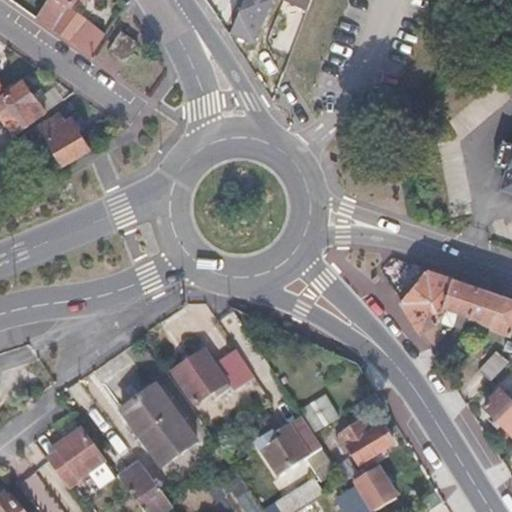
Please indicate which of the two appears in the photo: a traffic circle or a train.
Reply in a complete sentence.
There is a traffic circle in the scene.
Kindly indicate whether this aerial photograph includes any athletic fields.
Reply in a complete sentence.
No, no athletic field is visible in the scene.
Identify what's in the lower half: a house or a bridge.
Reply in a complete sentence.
Looking in the lower half, you will find a house.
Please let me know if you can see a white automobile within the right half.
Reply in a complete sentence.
Yes, I can see a white automobile within the right half.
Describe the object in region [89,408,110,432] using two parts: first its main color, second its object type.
white vehicle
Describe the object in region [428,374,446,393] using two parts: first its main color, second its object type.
white car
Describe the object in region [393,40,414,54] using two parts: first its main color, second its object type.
white vehicle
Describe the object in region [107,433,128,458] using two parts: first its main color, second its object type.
white truck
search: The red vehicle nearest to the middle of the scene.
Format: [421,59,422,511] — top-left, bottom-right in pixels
[365,296,386,316]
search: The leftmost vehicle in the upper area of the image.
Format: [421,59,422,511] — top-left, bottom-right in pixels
[53,40,70,54]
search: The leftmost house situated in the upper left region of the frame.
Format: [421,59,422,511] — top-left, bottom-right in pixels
[0,79,47,131]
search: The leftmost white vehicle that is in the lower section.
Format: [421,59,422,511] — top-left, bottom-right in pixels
[38,435,54,454]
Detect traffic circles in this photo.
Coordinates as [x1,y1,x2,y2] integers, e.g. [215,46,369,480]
[148,114,334,299]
